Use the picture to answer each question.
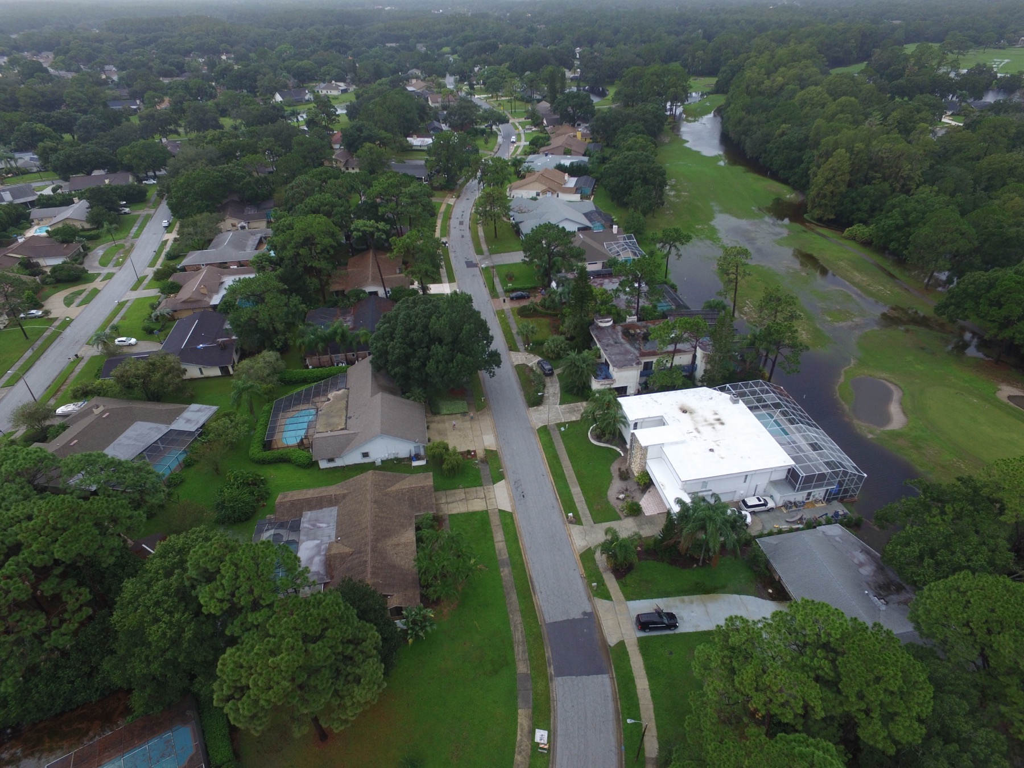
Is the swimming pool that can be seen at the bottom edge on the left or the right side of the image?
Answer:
left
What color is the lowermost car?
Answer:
black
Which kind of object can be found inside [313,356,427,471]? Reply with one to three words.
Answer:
house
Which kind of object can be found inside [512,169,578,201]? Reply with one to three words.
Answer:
house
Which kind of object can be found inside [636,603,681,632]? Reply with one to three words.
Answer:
car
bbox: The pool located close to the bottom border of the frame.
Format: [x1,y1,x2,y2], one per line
[107,725,196,768]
